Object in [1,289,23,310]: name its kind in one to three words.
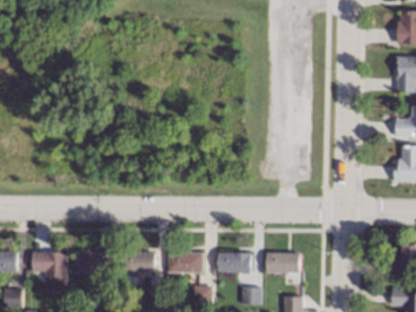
building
